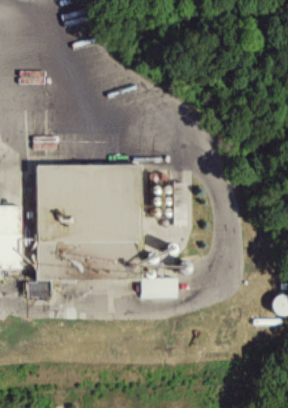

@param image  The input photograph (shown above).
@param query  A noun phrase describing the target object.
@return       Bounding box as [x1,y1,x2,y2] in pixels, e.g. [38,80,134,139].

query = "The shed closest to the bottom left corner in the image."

[27,282,50,302]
